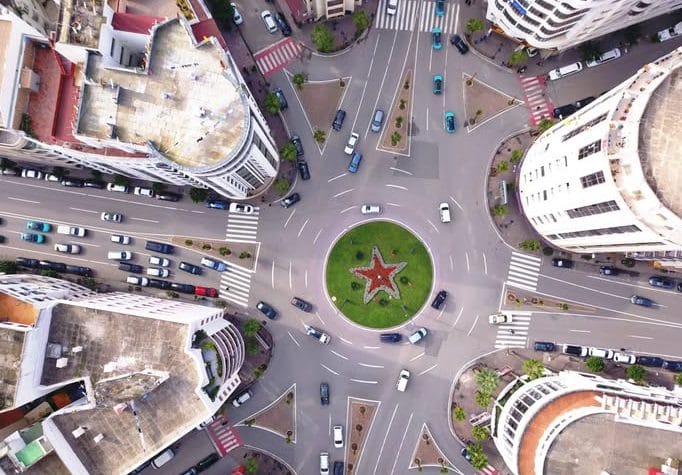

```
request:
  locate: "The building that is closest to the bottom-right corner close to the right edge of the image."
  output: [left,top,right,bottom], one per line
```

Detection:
[497,374,682,475]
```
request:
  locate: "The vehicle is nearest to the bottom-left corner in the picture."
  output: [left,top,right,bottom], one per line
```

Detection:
[152,448,175,469]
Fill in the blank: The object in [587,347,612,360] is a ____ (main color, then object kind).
white vehicle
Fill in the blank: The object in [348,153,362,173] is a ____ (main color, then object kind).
blue vehicle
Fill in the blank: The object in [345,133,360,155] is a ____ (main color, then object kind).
white car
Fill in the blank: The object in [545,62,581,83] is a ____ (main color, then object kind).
white vehicle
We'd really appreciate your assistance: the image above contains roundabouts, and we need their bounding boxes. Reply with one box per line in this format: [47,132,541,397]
[304,199,454,346]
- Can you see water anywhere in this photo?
No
